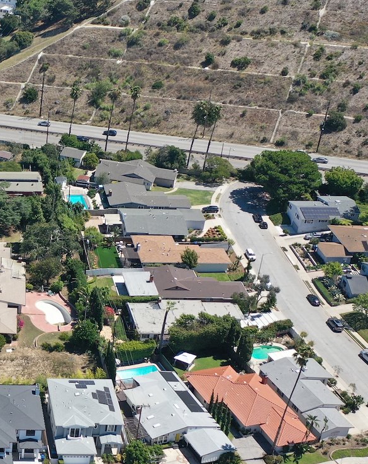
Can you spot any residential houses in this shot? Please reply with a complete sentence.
Yes, there is a residential house in the image.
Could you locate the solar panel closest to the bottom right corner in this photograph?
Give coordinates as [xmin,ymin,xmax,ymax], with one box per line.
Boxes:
[175,391,206,412]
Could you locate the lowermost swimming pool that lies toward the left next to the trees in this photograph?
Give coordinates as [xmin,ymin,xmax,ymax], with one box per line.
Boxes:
[117,365,158,381]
